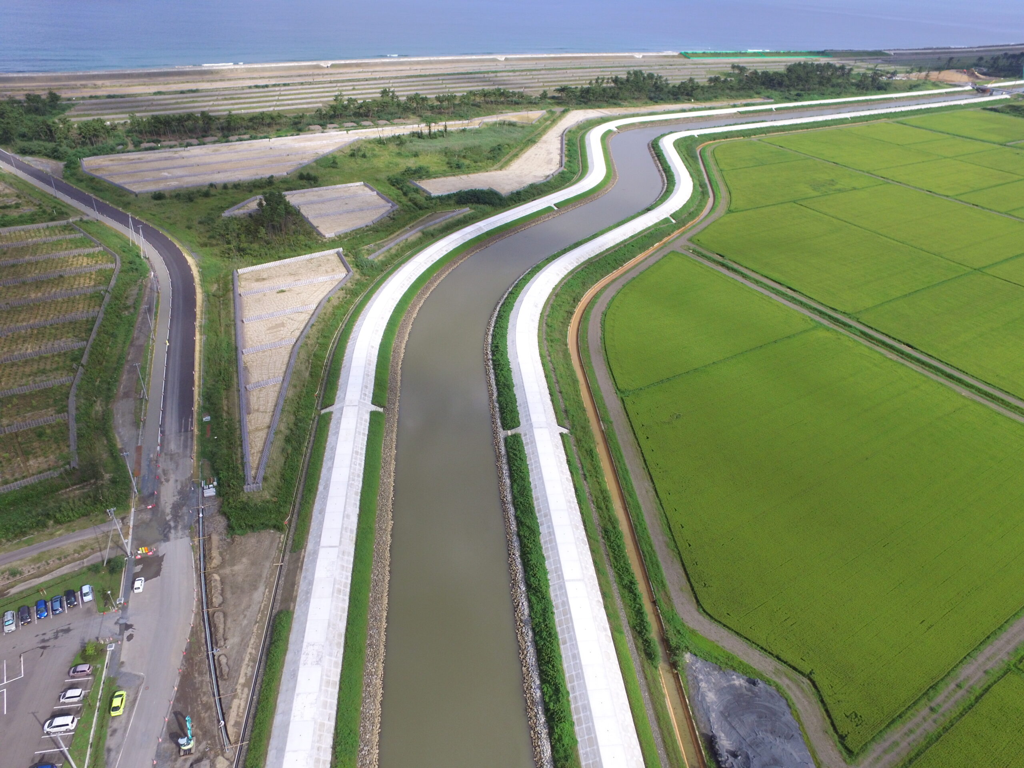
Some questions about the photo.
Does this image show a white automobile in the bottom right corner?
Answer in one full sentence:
No, looking in the bottom right corner, there is no white automobile.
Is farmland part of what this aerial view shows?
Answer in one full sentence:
Yes, there is farmland in the image.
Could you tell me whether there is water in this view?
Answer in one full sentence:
Yes, some water is visible.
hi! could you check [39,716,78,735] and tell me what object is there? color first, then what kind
white car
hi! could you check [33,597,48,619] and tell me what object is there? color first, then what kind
blue car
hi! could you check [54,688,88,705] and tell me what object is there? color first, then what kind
white car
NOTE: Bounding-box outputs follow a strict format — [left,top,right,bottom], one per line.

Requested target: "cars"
[0,608,16,633]
[17,604,31,625]
[39,716,78,735]
[33,597,48,619]
[54,688,88,705]
[108,688,127,717]
[64,587,77,607]
[65,663,95,679]
[79,579,93,602]
[133,575,146,592]
[48,593,63,615]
